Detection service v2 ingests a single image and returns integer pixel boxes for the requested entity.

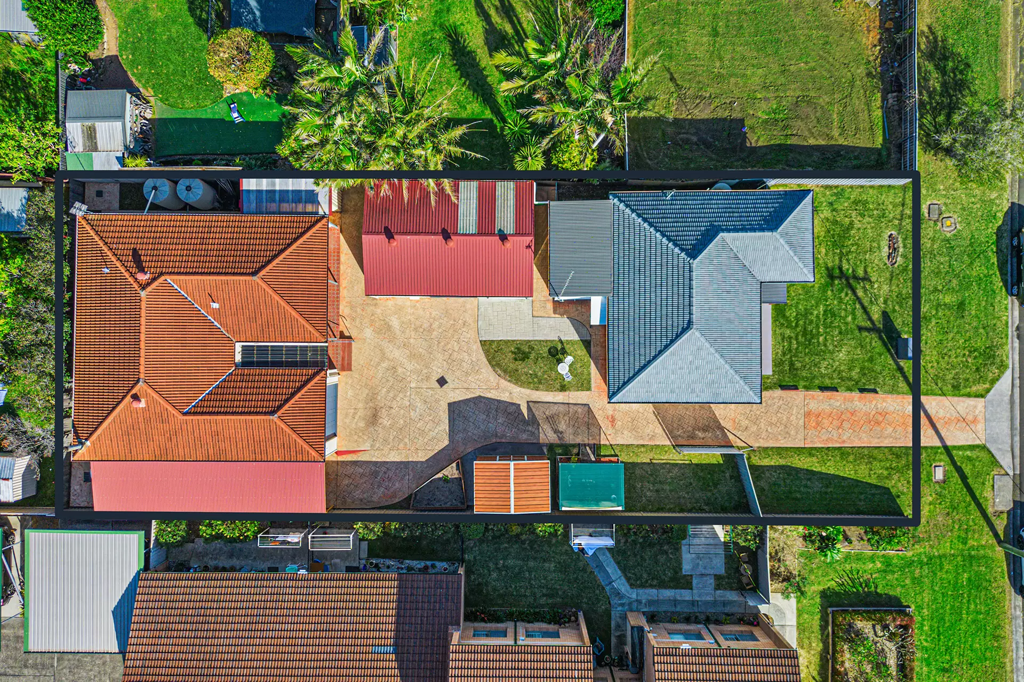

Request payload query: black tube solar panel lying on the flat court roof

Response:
[242,343,326,365]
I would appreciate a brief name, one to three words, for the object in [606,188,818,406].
house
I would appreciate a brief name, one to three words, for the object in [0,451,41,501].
shed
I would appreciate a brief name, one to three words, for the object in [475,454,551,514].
gazebo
